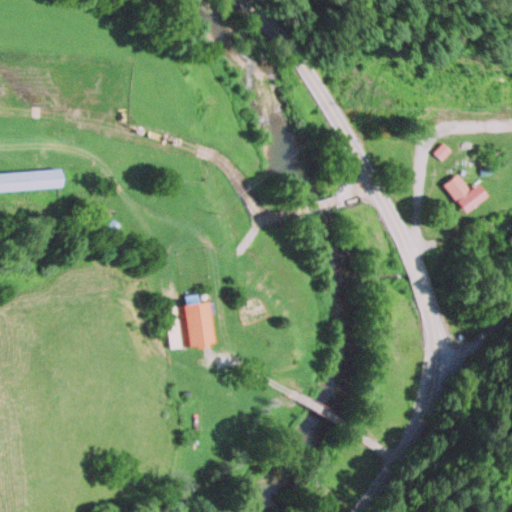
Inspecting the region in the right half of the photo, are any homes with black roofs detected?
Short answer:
No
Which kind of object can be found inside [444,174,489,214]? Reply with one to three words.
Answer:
house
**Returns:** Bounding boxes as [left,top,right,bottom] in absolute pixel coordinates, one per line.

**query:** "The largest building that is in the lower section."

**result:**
[168,293,216,350]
